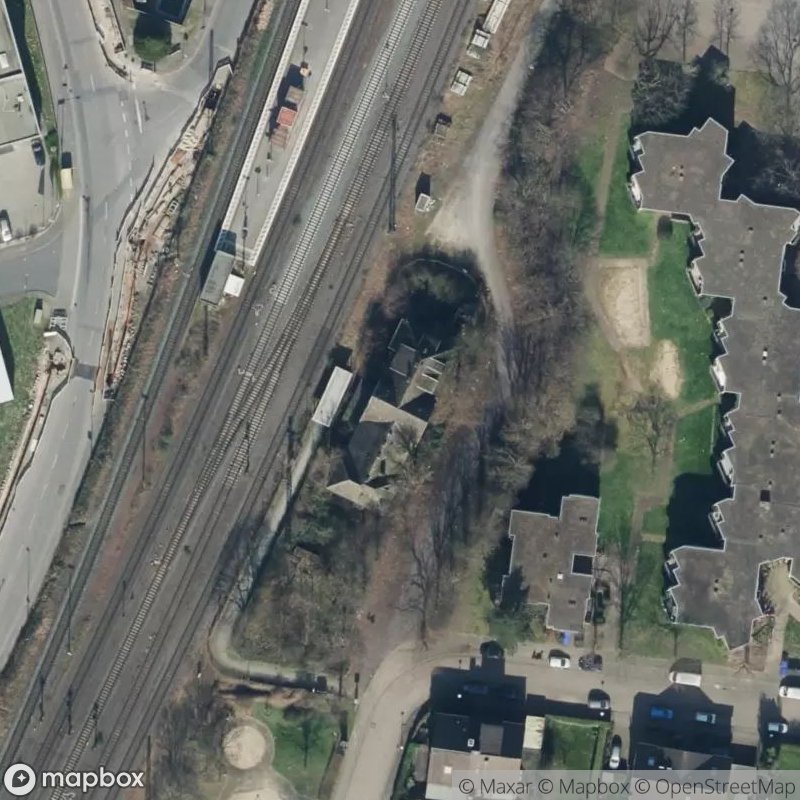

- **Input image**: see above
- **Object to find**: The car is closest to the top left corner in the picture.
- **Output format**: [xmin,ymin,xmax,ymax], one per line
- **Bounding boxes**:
[32,141,45,164]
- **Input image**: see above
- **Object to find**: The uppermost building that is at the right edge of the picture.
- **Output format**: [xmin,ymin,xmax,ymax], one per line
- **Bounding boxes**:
[628,116,800,652]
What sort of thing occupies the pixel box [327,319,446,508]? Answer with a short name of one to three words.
building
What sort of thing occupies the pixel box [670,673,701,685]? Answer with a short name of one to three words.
vehicle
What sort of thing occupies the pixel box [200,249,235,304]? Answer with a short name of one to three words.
building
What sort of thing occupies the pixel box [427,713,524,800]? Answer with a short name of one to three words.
house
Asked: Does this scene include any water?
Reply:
No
